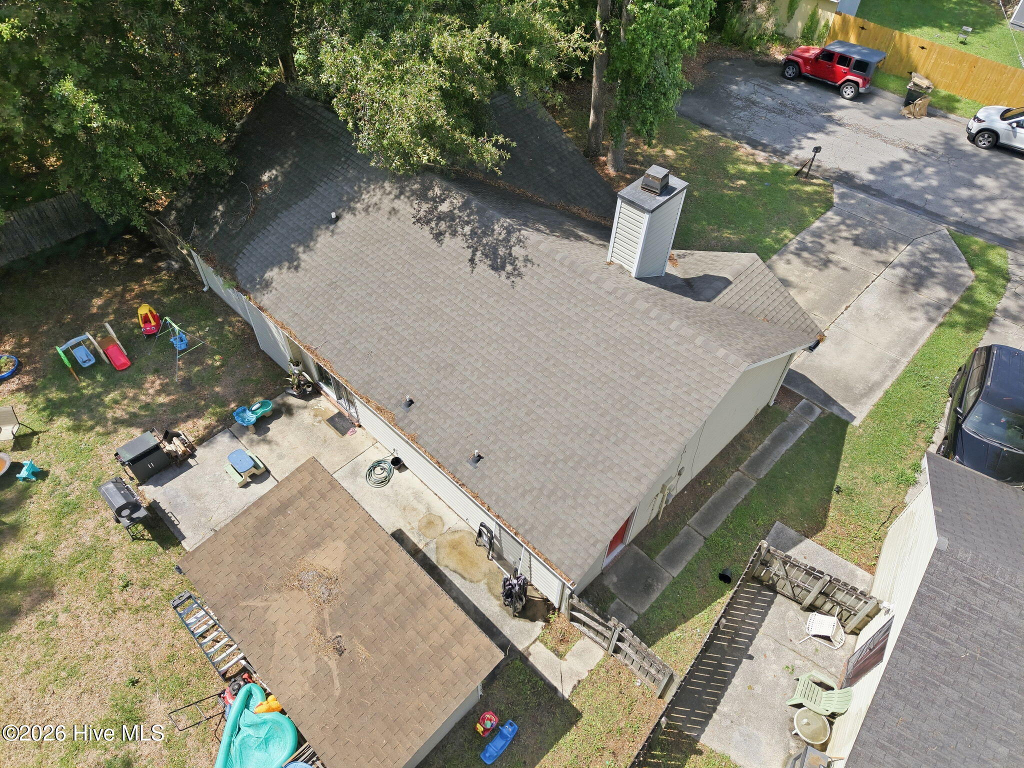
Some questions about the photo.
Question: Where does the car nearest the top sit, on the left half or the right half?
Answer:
right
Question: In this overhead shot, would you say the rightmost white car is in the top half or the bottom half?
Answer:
top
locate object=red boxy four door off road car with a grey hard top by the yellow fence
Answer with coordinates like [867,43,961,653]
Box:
[784,35,891,98]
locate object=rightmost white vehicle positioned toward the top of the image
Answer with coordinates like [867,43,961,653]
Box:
[968,111,1024,157]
